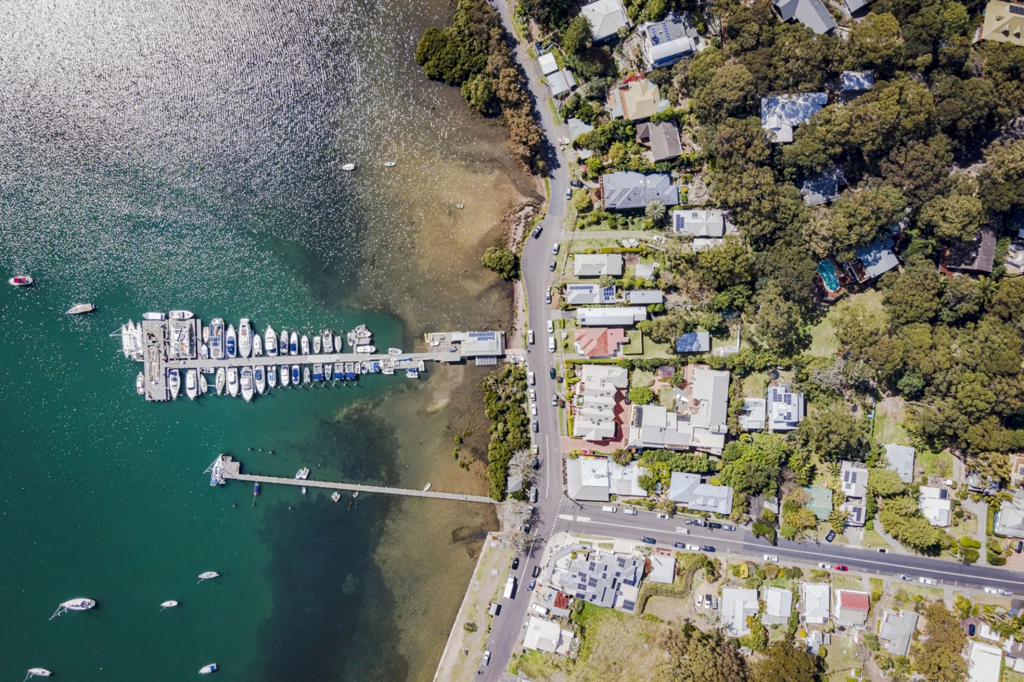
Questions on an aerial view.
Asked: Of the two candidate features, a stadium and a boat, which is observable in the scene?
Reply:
boat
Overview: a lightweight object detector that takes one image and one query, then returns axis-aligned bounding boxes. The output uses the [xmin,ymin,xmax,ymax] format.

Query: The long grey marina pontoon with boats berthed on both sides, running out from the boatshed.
[142,319,460,400]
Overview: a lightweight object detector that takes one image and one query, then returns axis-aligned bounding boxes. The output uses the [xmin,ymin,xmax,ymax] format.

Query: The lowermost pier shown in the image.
[222,456,503,504]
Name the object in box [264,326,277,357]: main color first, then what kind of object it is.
white boat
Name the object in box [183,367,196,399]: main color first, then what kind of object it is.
white boat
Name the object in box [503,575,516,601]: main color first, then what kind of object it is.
white vehicle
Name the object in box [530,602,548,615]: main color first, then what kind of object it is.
white vehicle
